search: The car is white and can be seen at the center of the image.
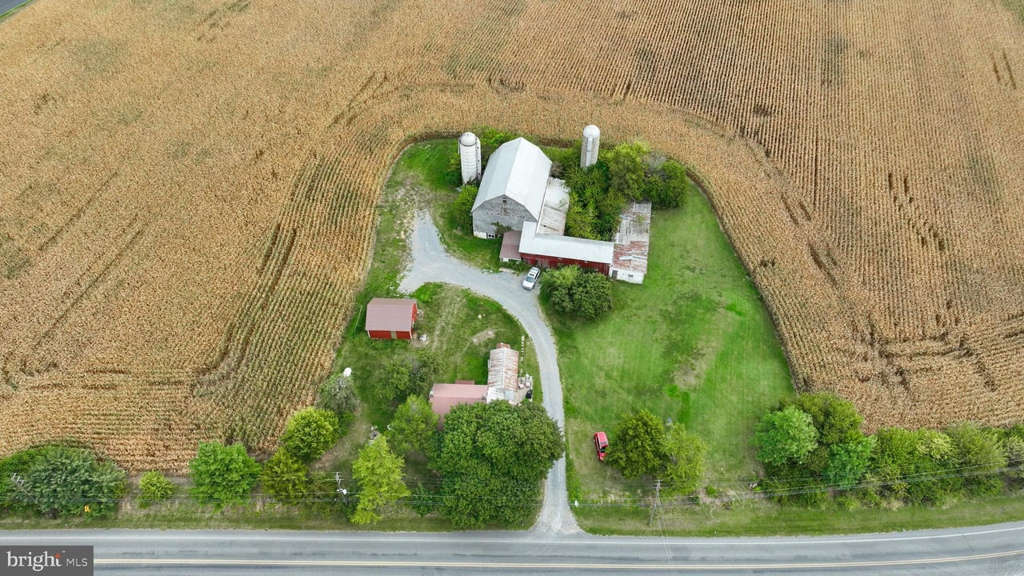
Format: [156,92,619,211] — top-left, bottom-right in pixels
[520,267,541,291]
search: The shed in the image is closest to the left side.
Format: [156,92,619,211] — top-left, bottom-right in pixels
[365,299,421,339]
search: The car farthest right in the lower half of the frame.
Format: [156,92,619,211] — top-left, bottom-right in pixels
[593,433,613,464]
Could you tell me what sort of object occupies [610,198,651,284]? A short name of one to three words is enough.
shed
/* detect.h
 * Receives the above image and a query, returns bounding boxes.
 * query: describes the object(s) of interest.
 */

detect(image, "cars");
[520,267,541,291]
[593,433,613,464]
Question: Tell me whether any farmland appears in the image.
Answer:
Yes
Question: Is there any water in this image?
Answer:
No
